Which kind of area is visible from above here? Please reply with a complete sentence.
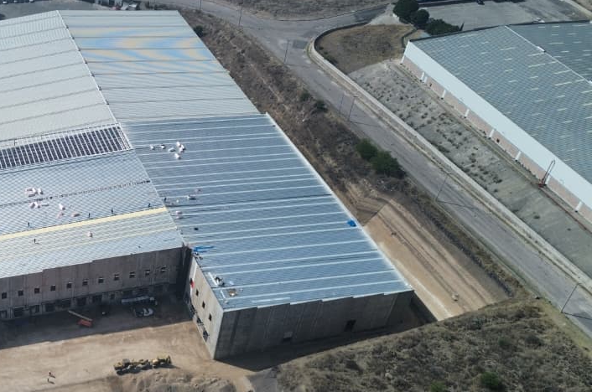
The picture captures an industrial area.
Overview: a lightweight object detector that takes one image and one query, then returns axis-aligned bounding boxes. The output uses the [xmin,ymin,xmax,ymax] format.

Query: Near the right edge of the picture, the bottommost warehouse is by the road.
[398,20,592,225]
